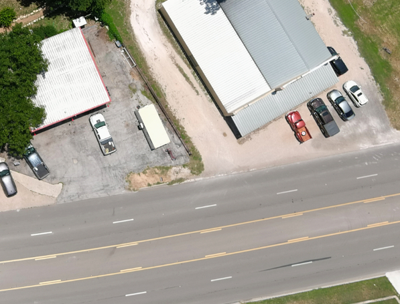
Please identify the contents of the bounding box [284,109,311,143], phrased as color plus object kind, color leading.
red truck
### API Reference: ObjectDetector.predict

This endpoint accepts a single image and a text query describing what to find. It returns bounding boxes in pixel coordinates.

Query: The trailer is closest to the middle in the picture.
[136,101,168,149]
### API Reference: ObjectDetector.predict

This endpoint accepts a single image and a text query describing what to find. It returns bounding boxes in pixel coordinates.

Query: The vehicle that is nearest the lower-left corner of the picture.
[0,161,16,197]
